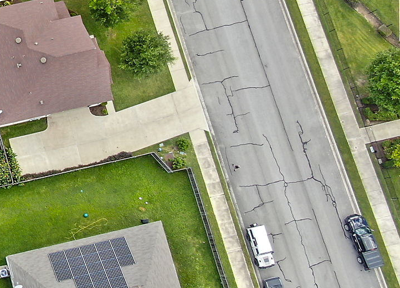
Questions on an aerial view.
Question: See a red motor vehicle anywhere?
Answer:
No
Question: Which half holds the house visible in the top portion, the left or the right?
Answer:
left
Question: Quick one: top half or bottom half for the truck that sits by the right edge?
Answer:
bottom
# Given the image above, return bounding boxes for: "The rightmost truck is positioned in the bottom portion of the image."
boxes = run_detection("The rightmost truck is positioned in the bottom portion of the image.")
[346,214,386,269]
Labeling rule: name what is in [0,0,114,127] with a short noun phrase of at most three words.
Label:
house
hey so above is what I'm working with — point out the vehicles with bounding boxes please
[245,223,275,268]
[346,214,386,269]
[261,274,284,288]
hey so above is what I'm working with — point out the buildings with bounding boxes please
[6,220,181,288]
[0,0,114,127]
